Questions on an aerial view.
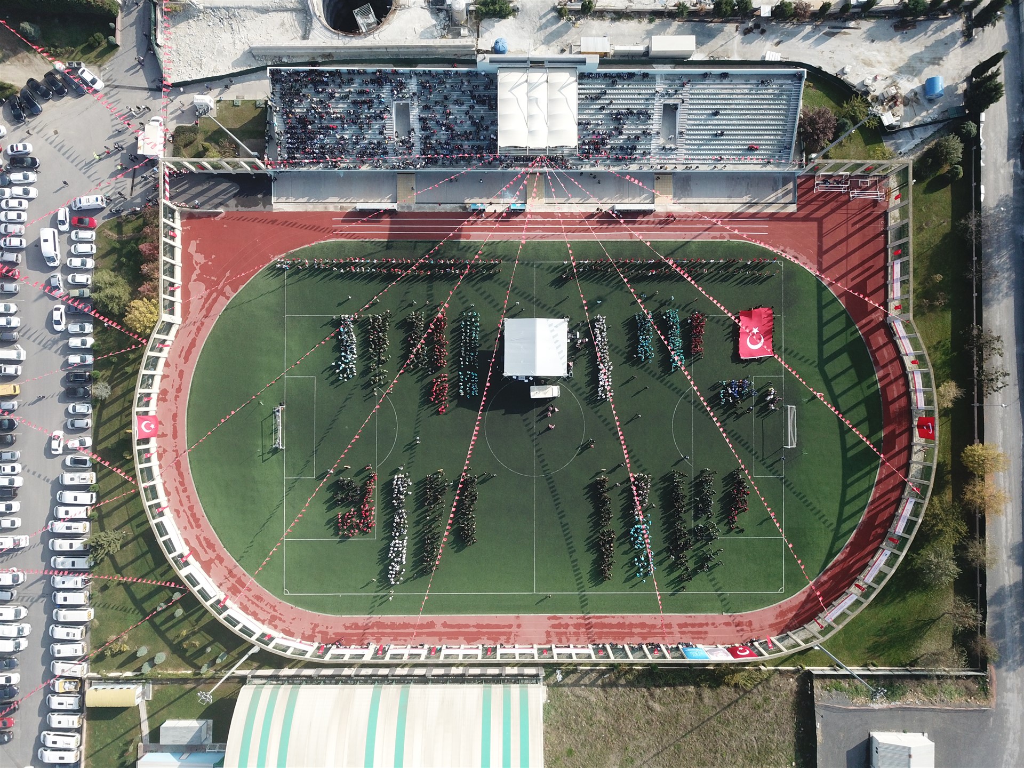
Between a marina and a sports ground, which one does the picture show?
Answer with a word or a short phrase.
sports ground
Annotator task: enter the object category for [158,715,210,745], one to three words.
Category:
shed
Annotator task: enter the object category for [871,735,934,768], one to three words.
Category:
building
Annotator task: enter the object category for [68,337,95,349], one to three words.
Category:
vehicle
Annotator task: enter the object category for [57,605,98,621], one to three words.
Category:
vehicle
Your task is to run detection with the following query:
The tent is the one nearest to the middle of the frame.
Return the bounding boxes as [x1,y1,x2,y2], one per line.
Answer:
[501,316,570,381]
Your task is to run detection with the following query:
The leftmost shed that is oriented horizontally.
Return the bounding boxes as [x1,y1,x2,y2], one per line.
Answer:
[86,682,144,706]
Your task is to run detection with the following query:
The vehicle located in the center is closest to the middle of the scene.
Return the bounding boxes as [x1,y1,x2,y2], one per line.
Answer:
[530,386,559,398]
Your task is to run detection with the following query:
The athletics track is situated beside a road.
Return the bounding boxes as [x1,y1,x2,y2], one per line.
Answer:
[157,174,912,644]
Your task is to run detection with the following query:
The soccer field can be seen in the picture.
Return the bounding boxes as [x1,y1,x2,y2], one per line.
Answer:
[187,241,882,615]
